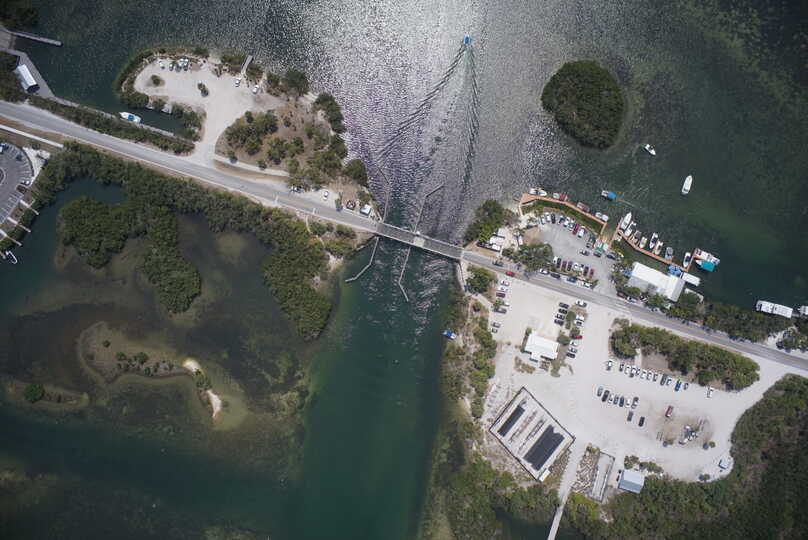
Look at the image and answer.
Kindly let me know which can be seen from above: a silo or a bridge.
bridge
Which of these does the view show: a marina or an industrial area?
marina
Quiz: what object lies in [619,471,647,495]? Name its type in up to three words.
shed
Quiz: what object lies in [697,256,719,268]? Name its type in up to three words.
boat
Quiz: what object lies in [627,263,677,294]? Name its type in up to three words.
building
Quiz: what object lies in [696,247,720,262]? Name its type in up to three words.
boat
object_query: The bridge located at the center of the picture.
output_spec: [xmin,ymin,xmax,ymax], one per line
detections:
[375,221,464,261]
